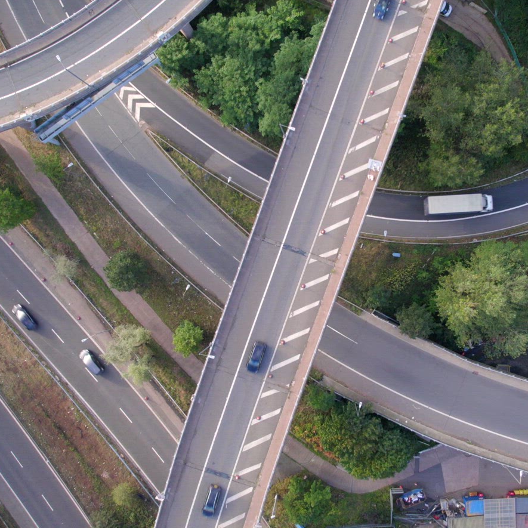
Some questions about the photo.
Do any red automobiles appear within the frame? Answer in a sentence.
No, no red automobile is visible in the scene.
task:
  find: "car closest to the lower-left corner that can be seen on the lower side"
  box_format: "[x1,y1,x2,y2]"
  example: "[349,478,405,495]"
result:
[78,347,106,376]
